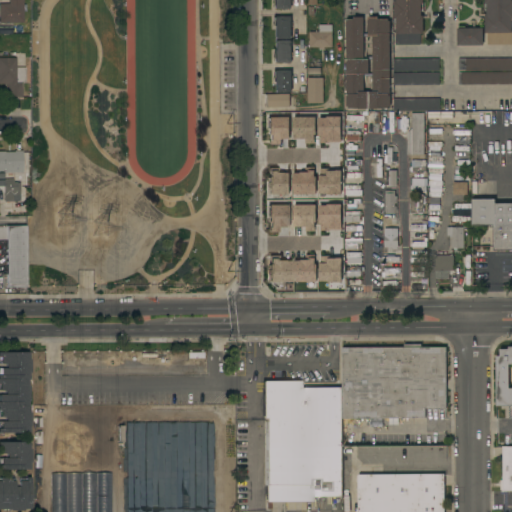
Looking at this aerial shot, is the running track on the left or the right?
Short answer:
left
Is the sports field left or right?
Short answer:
left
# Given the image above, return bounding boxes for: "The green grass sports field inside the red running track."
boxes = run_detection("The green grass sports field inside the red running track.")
[136,0,187,176]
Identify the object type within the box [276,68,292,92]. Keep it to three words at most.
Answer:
building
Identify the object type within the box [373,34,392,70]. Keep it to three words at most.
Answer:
building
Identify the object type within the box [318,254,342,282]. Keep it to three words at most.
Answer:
house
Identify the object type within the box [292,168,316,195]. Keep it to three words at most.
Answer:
house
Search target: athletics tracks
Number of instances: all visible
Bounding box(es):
[126,0,197,186]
